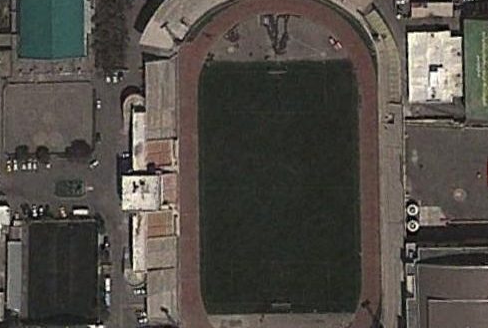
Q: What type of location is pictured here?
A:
sports ground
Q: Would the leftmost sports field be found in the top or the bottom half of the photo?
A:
bottom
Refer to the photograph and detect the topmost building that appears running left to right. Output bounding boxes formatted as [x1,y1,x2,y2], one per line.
[411,1,453,18]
